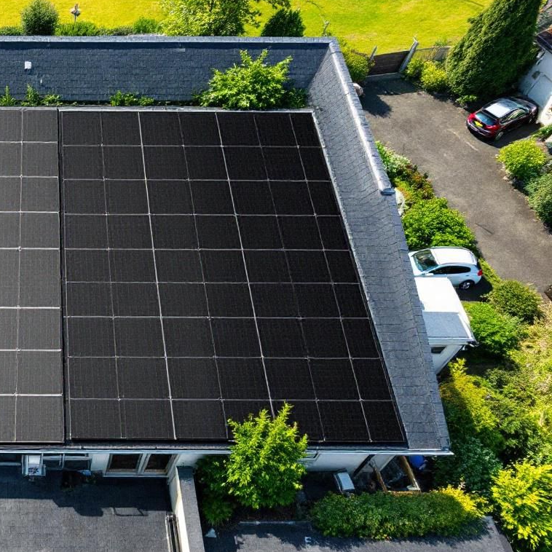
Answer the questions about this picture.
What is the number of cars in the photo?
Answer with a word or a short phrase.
two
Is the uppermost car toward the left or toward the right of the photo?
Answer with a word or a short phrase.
right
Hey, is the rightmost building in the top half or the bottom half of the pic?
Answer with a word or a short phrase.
top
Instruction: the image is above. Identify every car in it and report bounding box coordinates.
[409,252,490,287]
[476,97,542,133]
